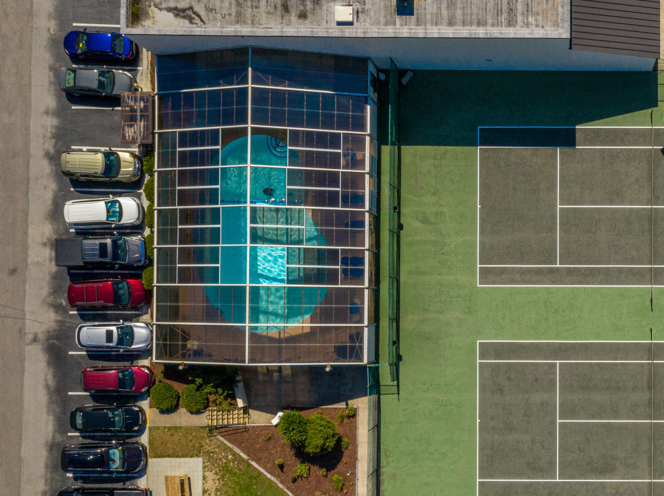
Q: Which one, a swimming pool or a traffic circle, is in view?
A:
swimming pool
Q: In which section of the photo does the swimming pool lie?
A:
center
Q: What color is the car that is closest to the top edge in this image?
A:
blue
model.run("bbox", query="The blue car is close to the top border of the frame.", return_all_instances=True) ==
[65,23,138,61]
